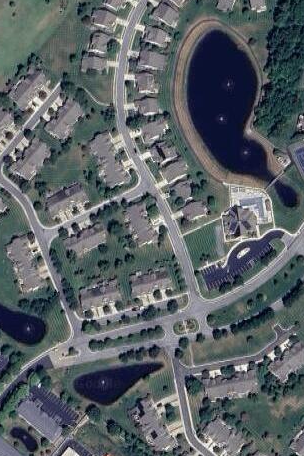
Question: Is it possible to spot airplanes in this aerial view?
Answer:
No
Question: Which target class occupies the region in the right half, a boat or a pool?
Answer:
pool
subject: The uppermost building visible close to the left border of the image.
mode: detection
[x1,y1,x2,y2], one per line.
[11,68,48,105]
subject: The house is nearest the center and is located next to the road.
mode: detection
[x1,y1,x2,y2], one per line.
[120,204,157,252]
